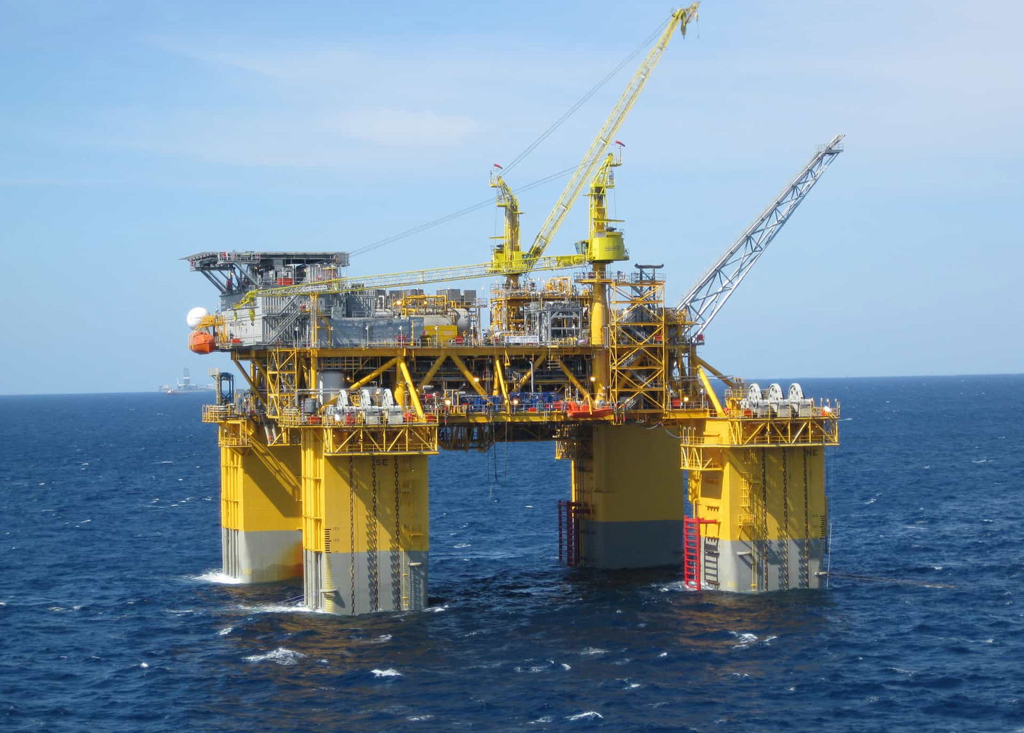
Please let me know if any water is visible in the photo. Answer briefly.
Yes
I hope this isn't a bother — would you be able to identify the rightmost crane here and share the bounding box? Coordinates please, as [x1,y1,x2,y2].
[480,1,699,331]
